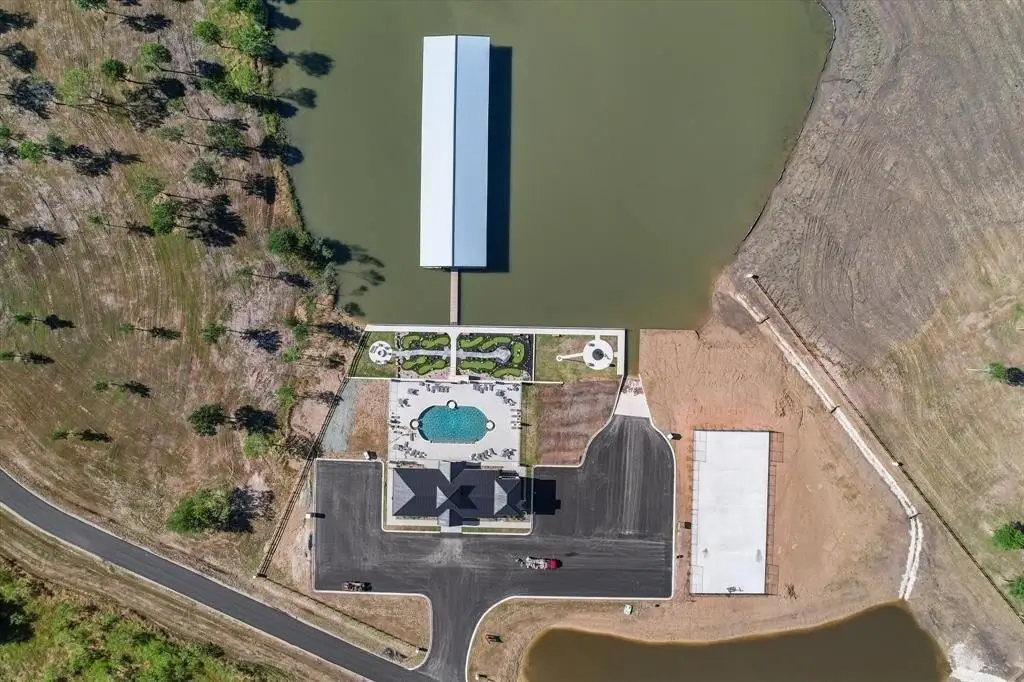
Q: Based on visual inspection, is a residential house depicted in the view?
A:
Yes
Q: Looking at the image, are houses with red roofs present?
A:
No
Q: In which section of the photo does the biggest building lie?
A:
top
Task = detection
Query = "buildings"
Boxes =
[393,461,524,527]
[420,34,491,269]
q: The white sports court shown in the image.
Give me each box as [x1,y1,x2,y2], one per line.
[690,430,775,600]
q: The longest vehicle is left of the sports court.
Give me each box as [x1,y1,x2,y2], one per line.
[526,559,558,571]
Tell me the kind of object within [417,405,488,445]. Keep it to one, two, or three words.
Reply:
swimming pool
